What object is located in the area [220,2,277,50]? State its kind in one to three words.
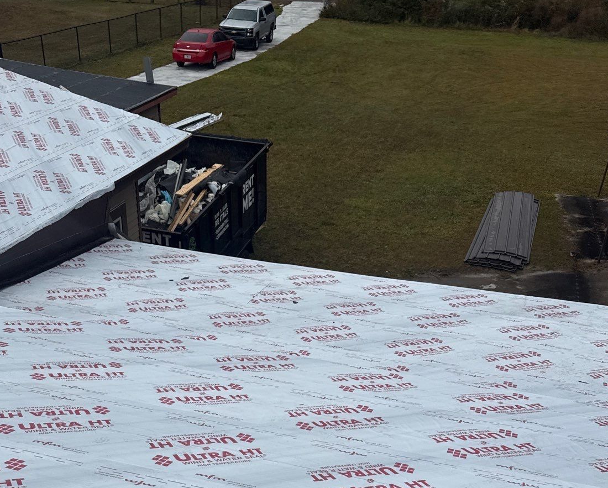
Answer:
truck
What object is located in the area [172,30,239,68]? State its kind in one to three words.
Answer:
car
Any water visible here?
No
